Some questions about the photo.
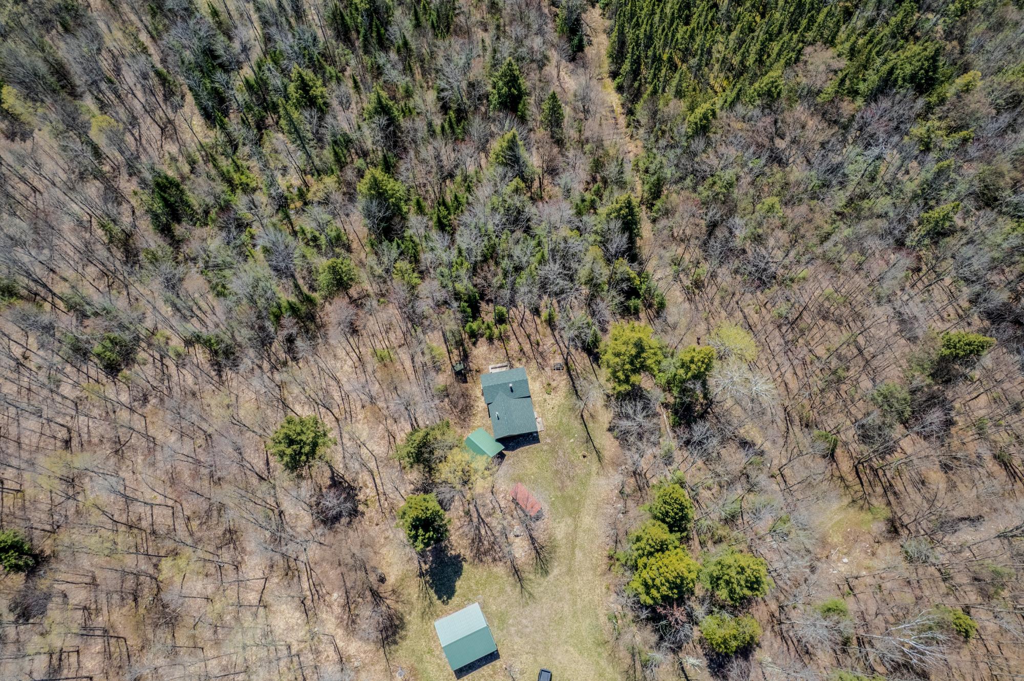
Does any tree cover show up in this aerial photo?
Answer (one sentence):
Yes, the picture does contain tree cover.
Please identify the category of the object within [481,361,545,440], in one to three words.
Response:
building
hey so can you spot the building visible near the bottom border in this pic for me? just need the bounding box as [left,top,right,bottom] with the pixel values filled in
[434,602,497,672]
